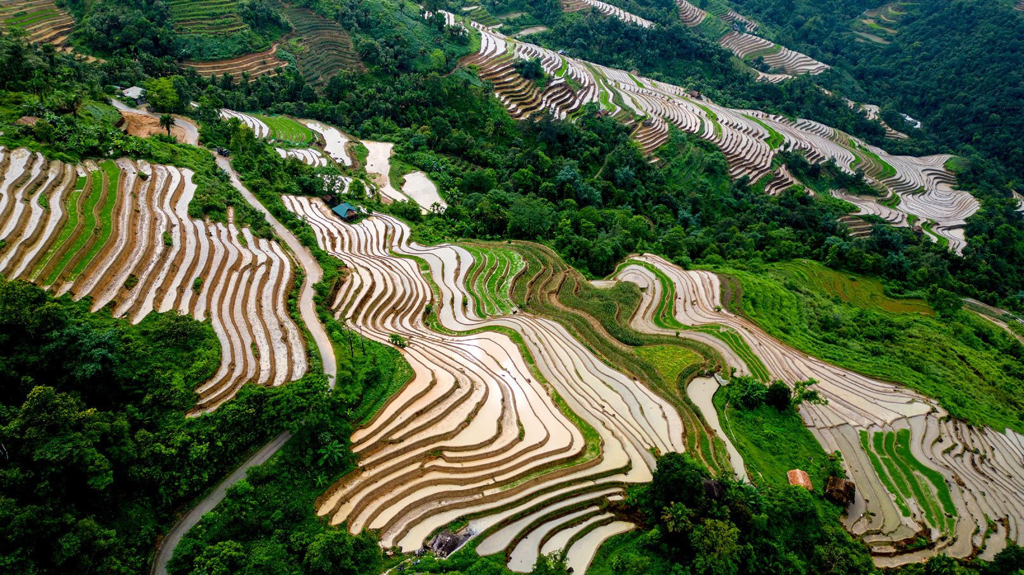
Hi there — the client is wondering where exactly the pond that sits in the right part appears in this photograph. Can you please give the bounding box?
[689,376,748,483]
